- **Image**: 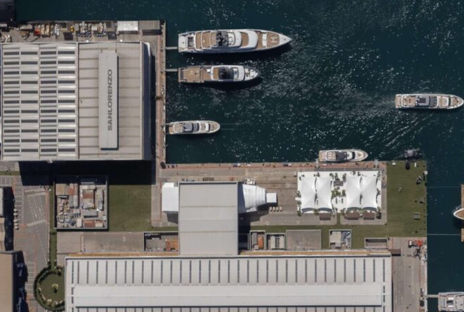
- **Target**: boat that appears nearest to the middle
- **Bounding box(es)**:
[170,120,220,133]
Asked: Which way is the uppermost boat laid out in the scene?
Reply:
from side to side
